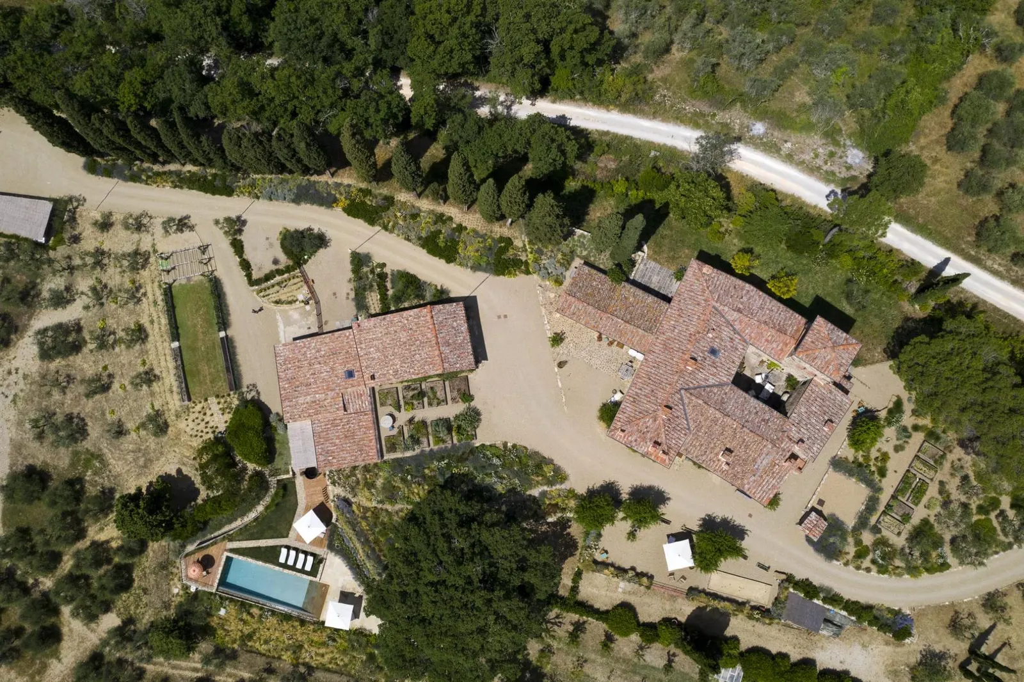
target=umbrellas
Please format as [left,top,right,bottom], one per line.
[184,561,204,581]
[325,601,354,630]
[293,509,326,543]
[663,539,694,571]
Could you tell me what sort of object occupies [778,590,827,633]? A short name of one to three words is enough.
shed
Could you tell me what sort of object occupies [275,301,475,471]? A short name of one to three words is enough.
shed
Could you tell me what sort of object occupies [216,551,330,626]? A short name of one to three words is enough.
swimming pool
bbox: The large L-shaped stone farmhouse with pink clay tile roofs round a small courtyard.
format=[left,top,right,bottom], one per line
[555,259,863,507]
